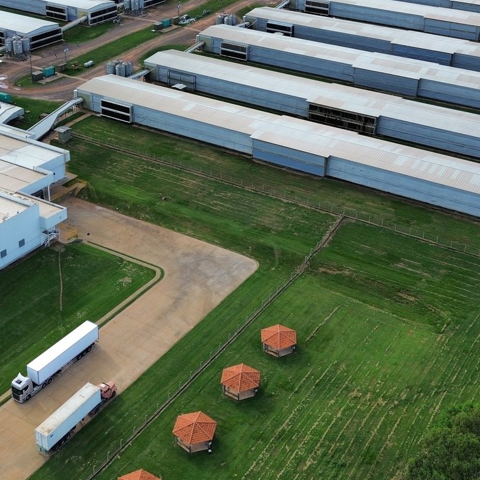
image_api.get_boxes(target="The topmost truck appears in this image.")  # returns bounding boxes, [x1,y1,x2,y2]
[9,319,98,403]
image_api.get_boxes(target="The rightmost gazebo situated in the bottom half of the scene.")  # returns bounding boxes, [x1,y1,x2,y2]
[262,324,296,358]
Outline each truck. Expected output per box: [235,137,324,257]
[9,319,98,403]
[34,374,120,451]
